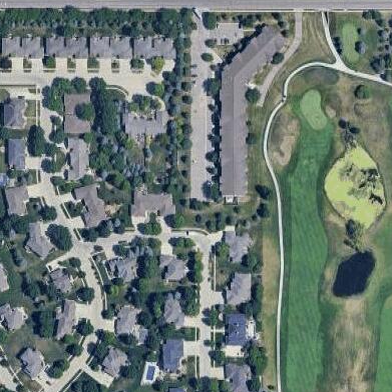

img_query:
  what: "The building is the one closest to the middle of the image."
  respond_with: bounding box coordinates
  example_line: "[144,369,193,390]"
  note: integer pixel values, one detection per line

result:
[134,190,172,216]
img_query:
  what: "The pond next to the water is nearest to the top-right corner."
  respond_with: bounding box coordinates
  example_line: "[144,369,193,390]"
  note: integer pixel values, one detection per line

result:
[325,146,385,229]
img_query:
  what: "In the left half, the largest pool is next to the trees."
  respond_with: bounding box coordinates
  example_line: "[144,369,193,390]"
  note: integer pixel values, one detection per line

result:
[142,362,158,384]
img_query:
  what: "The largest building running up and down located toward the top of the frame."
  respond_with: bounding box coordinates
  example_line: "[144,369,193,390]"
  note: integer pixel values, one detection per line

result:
[221,22,282,202]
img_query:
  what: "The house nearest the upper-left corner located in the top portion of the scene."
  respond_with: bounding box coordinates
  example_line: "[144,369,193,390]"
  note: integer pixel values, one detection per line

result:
[2,34,43,58]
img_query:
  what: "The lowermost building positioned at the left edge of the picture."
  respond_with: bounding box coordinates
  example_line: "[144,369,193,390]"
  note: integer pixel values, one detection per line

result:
[18,345,44,383]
